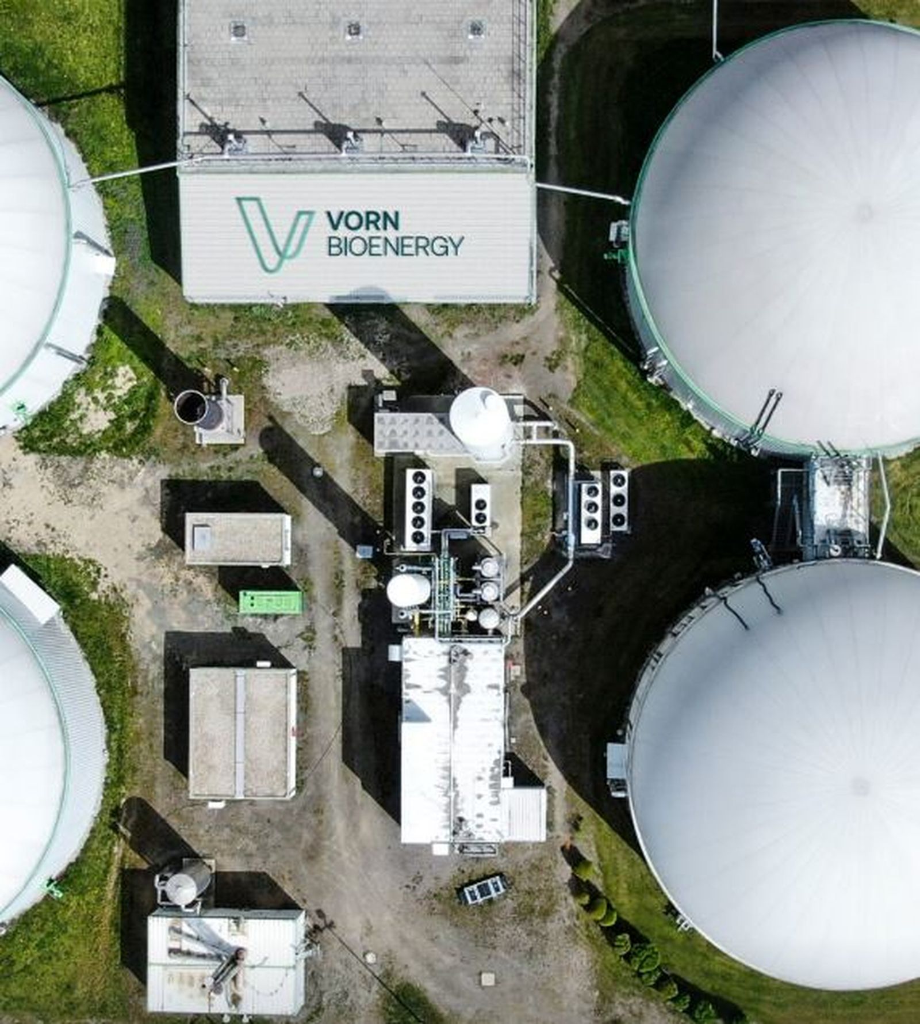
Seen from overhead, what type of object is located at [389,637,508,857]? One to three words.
building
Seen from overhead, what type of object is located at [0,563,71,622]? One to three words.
shed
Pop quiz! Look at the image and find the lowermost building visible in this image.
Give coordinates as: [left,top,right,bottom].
[146,906,321,1021]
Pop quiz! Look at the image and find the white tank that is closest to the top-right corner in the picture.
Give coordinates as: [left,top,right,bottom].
[603,20,920,466]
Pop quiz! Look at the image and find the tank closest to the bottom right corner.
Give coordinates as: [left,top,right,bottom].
[600,554,920,990]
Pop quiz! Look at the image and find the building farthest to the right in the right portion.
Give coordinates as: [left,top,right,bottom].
[794,455,874,560]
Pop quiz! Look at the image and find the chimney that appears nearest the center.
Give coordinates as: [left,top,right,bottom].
[174,379,246,444]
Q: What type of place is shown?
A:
industrial area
